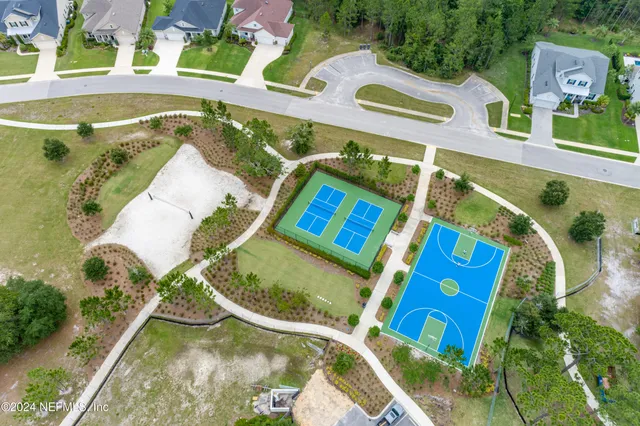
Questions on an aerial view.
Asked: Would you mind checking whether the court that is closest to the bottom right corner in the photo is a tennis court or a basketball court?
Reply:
basketball court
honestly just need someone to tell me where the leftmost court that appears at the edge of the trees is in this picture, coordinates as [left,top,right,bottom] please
[79,143,265,282]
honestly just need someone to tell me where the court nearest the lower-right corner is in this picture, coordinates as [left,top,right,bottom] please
[381,222,511,373]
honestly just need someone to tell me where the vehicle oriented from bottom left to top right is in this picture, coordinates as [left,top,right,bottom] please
[375,402,406,426]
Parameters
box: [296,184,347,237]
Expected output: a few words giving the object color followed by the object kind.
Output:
blue sports court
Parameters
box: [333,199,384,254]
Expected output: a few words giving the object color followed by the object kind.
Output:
blue sports court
